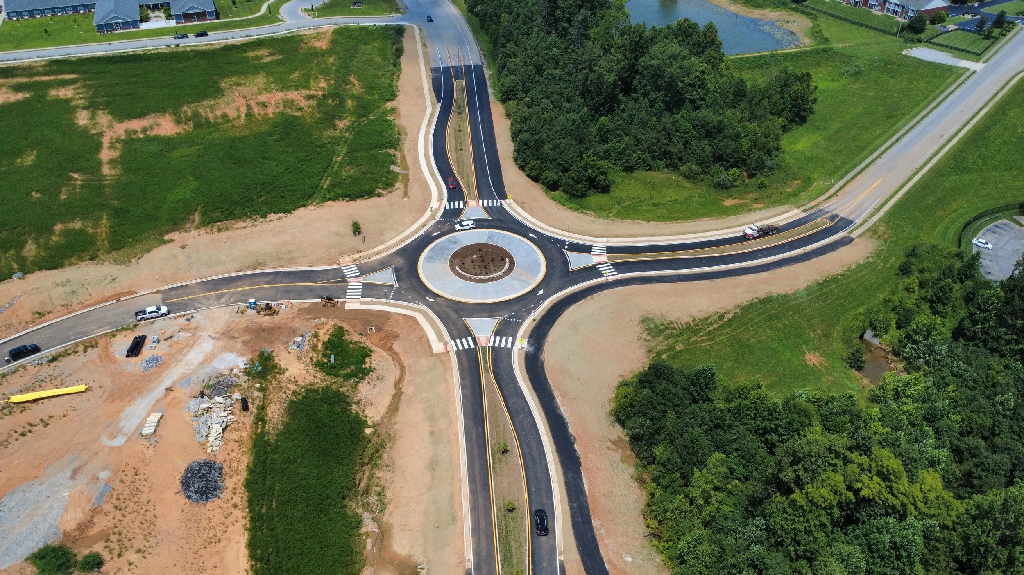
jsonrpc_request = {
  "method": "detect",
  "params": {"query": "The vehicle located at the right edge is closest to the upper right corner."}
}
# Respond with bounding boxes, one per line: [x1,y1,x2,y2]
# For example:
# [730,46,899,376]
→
[971,237,996,249]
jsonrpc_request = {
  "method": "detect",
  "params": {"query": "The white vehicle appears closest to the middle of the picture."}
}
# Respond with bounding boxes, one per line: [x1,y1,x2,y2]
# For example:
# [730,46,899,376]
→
[454,219,476,232]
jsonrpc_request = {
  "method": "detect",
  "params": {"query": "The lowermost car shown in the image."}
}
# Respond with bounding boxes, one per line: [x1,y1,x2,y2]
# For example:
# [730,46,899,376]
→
[534,507,550,535]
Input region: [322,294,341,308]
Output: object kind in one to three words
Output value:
work vehicle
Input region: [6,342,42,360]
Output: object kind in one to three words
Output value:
car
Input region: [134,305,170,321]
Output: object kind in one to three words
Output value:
vehicle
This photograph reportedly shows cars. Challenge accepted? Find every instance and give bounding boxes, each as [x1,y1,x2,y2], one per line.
[534,507,550,535]
[6,342,42,360]
[454,219,476,232]
[426,12,433,20]
[447,176,456,187]
[174,32,188,38]
[194,30,208,36]
[971,237,996,249]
